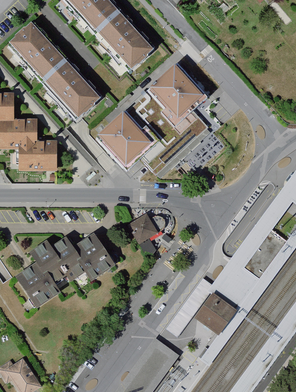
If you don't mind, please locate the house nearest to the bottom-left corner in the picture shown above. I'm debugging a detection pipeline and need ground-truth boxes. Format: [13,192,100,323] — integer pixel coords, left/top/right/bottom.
[0,358,41,392]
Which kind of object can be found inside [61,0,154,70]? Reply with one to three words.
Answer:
house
